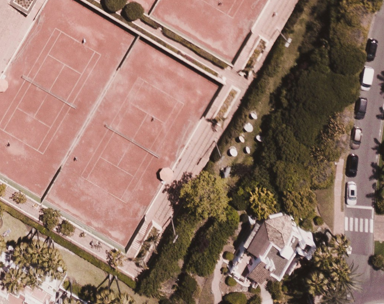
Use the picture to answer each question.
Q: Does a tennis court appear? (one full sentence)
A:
Yes, you can see a tennis court in this photo.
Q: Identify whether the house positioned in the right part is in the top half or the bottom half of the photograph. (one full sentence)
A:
You can find the house positioned in the right part in the bottom half.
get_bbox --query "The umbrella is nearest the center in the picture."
[160,167,173,181]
